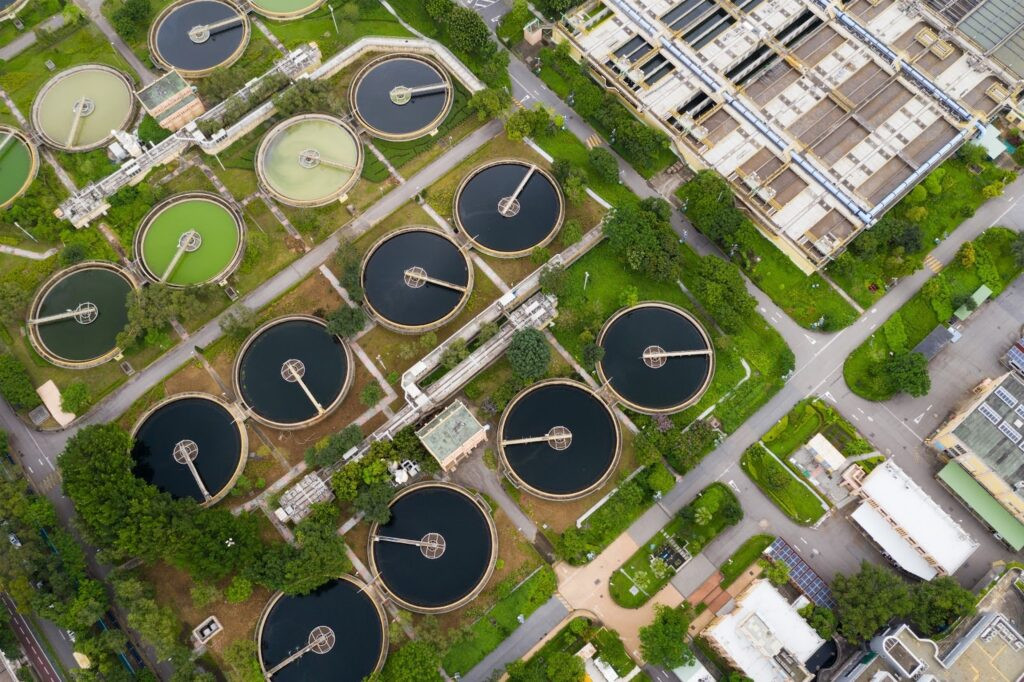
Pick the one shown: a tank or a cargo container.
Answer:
tank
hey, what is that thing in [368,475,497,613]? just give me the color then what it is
black storage tank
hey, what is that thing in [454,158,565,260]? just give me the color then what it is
black storage tank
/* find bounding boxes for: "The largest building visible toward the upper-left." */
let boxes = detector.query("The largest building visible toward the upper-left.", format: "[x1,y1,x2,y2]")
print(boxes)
[135,67,204,133]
